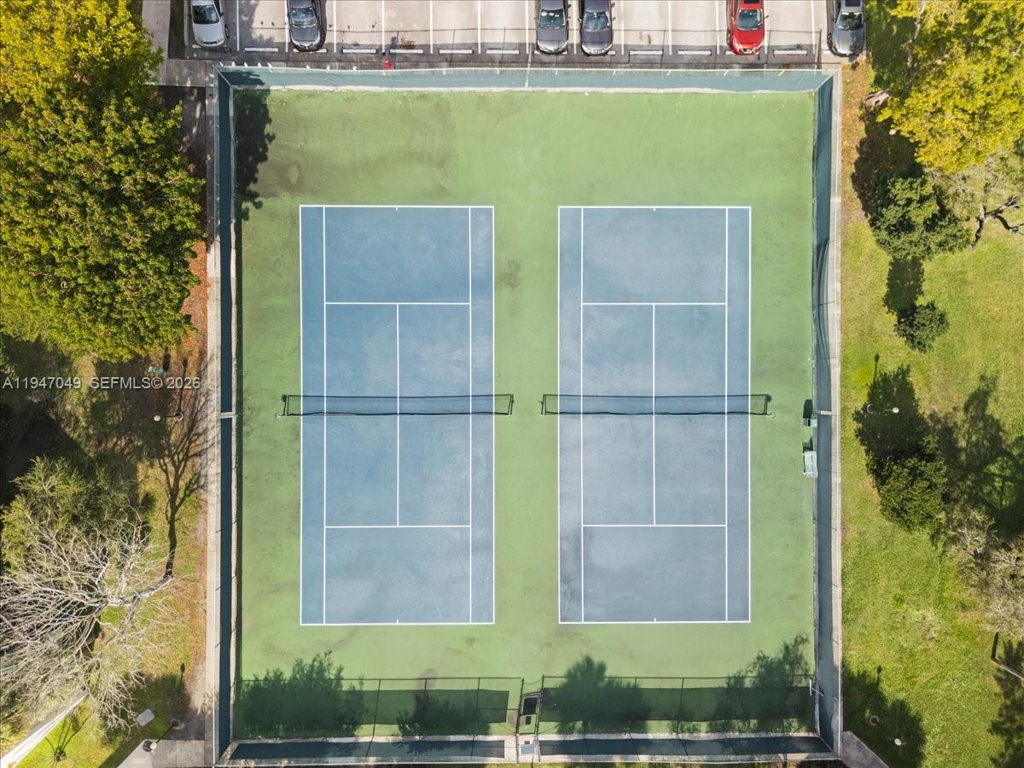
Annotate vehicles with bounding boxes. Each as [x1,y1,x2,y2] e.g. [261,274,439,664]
[534,0,573,56]
[187,0,229,50]
[827,0,872,59]
[283,0,323,53]
[727,0,770,57]
[579,0,618,57]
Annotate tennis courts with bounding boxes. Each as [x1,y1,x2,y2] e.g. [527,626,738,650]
[559,206,750,624]
[300,205,494,625]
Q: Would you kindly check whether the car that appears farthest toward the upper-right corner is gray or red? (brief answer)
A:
gray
